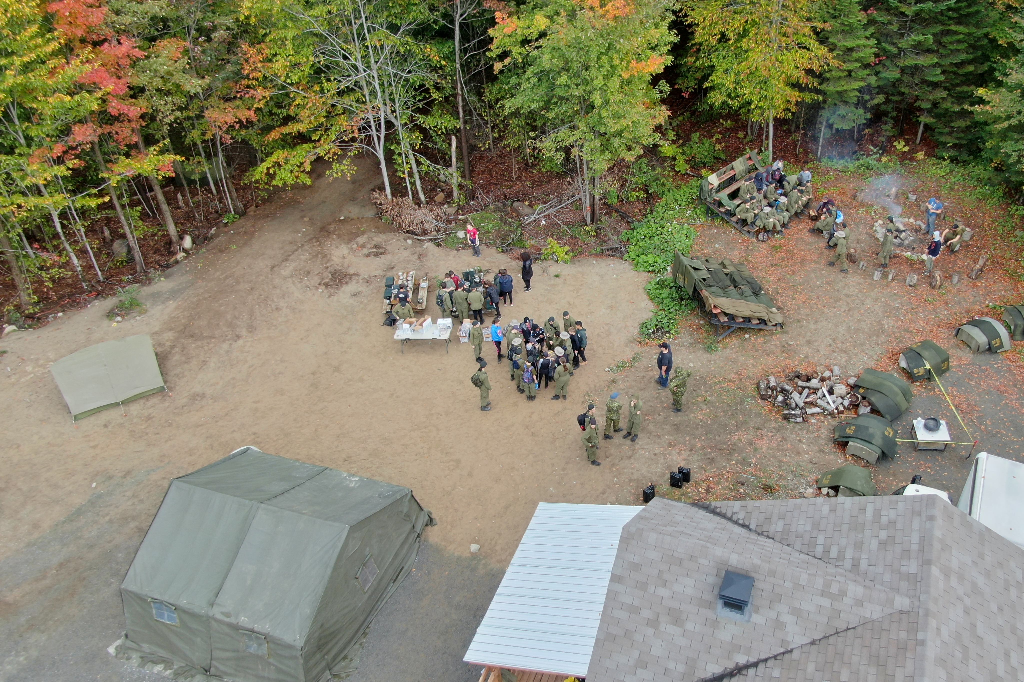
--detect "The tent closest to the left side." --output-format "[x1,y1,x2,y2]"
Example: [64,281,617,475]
[53,334,172,424]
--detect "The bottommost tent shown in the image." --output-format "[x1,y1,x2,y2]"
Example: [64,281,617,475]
[120,439,448,682]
